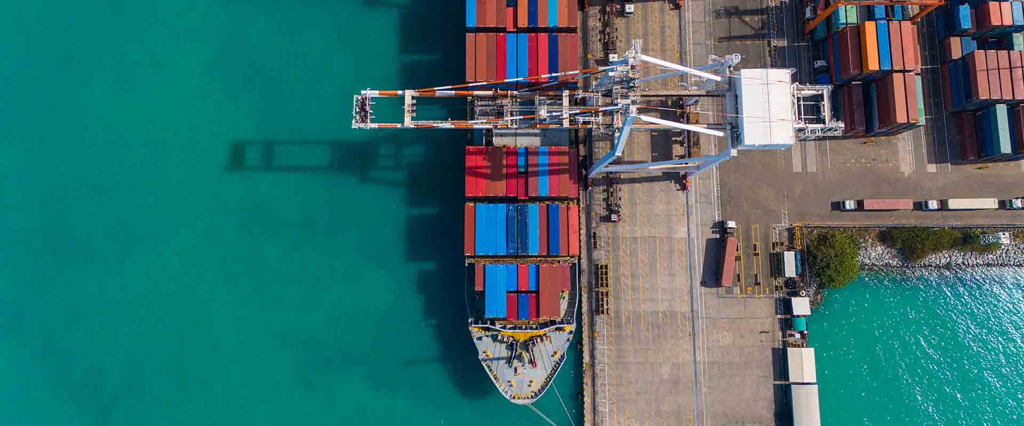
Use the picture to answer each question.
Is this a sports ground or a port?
port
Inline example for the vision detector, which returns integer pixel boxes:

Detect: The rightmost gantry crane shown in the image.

[801,0,945,39]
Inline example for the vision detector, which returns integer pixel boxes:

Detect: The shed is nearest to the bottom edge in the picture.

[786,384,821,426]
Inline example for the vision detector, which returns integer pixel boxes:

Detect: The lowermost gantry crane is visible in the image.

[349,35,847,191]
